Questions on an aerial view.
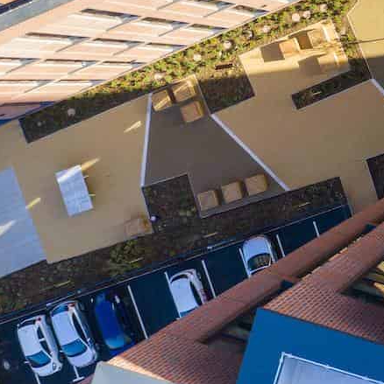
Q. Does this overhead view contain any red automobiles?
No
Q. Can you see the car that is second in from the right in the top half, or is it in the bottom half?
bottom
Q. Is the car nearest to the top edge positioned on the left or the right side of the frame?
right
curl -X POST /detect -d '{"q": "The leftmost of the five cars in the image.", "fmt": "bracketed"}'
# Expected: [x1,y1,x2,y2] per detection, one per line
[8,315,61,380]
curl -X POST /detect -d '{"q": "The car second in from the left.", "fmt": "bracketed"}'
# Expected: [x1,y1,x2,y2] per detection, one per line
[43,300,98,372]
